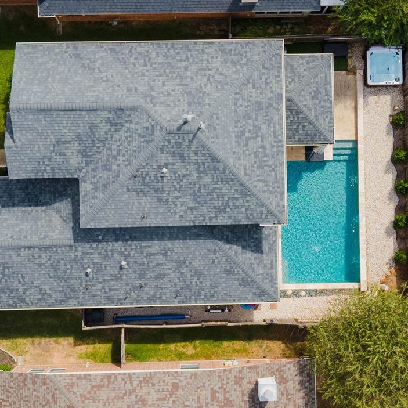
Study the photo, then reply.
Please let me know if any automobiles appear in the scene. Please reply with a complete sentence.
No, there is no automobile in the image.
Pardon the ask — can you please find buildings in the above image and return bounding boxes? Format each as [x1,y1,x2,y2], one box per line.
[0,358,318,408]
[0,0,323,27]
[0,37,336,310]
